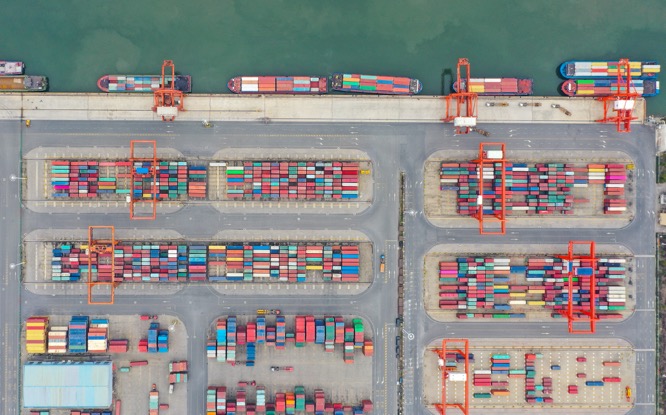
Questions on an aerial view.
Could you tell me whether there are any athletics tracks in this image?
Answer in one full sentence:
No, the scene contains no athletics track.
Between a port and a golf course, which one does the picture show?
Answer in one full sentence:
It's a port.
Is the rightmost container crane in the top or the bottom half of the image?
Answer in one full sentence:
The rightmost container crane sits in the top half of the picture.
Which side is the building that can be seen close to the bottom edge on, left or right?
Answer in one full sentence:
The building that can be seen close to the bottom edge is on the left side of the image.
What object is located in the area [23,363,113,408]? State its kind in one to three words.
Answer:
building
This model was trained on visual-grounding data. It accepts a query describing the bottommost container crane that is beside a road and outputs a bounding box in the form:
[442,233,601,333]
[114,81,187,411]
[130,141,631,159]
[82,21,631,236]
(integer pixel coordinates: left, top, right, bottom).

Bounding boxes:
[433,339,469,415]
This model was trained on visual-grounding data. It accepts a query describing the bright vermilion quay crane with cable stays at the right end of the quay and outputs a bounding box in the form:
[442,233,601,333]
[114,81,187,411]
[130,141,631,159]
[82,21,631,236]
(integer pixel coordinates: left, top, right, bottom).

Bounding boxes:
[589,59,641,133]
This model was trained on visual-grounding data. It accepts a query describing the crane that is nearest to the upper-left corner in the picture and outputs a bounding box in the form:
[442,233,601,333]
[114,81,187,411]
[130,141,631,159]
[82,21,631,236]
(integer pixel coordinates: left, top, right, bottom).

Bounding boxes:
[151,60,189,121]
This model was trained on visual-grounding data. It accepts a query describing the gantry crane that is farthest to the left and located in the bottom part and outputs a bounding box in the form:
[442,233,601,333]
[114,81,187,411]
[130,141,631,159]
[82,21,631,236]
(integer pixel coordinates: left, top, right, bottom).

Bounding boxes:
[85,226,124,304]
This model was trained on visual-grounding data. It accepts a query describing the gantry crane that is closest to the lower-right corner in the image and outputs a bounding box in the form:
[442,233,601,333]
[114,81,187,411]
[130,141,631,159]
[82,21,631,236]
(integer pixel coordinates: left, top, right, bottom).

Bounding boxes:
[554,241,595,333]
